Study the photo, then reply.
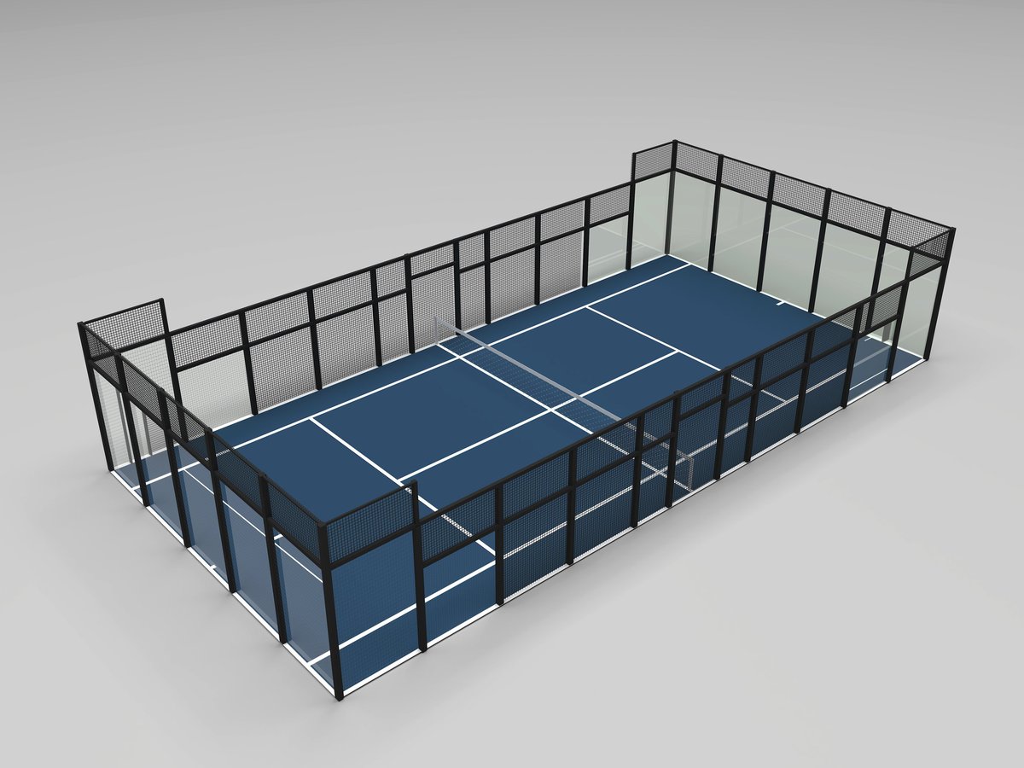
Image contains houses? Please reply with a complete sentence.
No, this view has no house in it.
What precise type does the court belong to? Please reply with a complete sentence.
I'd identify the court as a tennis court.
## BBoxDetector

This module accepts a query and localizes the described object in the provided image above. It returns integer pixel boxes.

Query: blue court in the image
[111,253,926,698]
